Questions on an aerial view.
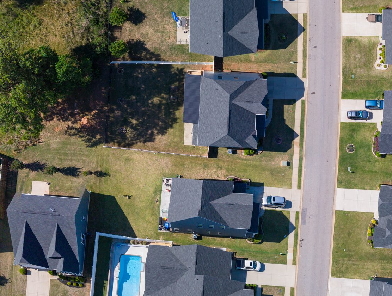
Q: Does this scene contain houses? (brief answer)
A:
Yes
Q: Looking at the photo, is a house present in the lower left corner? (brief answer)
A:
Yes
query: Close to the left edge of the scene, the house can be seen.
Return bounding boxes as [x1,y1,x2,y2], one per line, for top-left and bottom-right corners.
[5,187,90,282]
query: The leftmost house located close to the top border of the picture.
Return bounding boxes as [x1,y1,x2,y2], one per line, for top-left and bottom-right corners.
[189,0,268,56]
